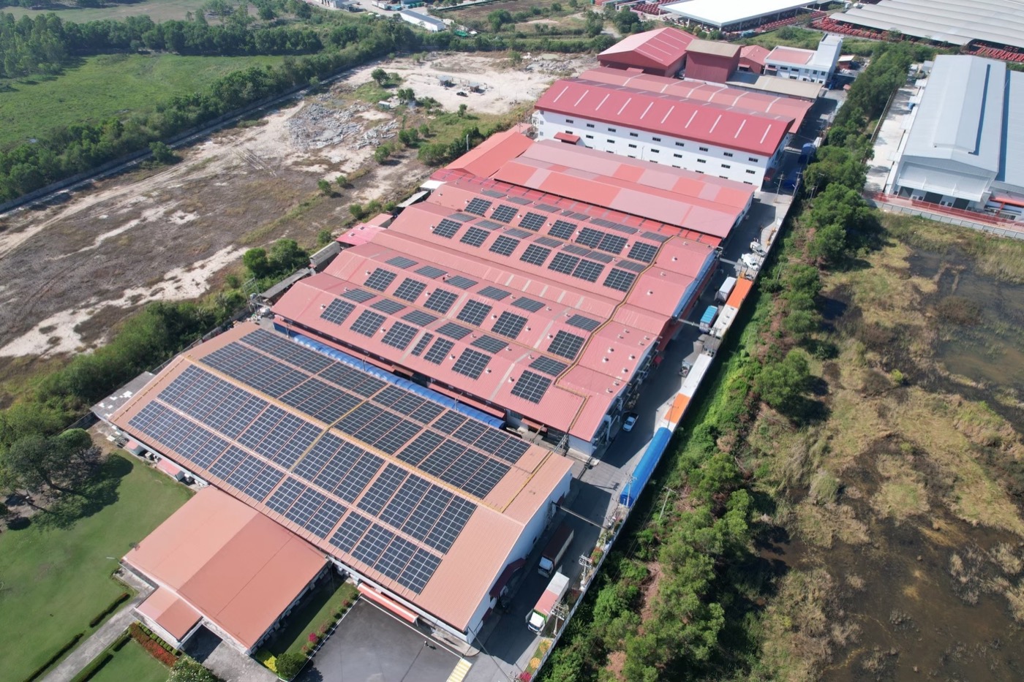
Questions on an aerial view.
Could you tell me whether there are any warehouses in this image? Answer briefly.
Yes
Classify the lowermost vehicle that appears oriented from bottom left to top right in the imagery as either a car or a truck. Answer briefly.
truck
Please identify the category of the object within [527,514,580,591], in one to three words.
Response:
truck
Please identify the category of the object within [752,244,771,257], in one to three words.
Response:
vehicle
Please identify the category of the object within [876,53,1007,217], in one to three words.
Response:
warehouse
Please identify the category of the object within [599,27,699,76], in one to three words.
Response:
barn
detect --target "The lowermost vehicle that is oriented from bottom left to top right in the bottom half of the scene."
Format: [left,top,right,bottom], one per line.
[525,562,576,640]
